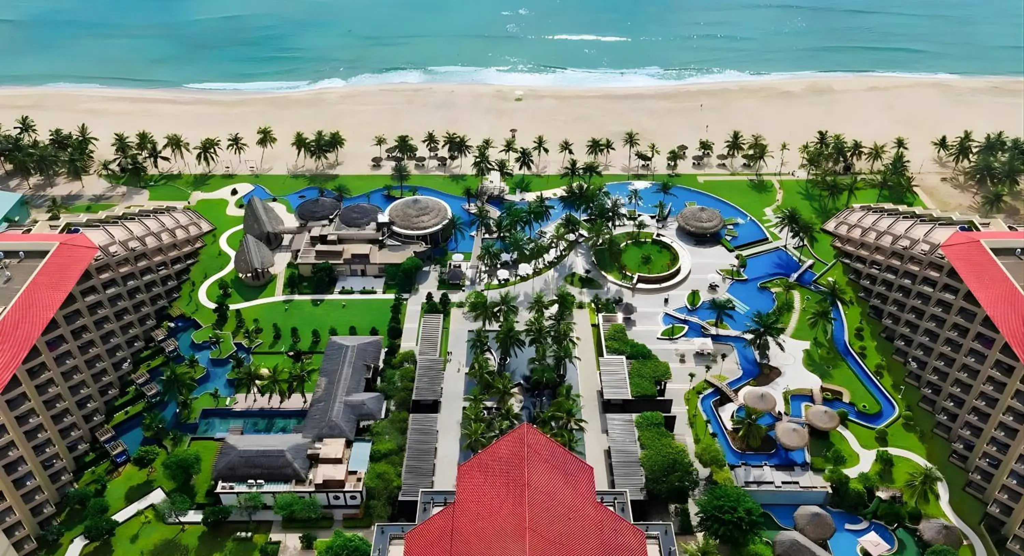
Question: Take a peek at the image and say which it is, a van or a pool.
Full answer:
I can see a pool in this picture.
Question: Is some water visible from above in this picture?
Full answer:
Yes, there is water in the image.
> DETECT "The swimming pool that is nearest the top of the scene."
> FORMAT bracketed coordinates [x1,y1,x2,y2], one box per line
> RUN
[243,181,765,251]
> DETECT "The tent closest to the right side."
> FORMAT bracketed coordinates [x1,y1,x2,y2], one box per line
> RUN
[853,531,891,556]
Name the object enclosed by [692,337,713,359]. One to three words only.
tent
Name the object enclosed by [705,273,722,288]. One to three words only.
umbrella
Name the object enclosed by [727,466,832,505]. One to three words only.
building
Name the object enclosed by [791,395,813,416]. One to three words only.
swimming pool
